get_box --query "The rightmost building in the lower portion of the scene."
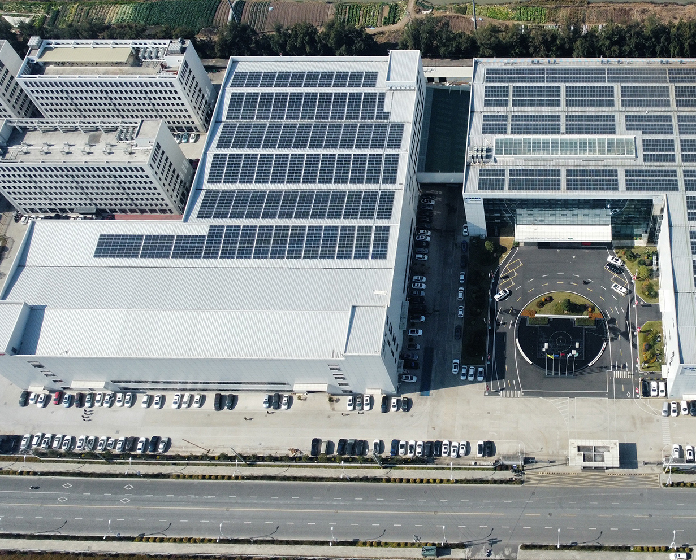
[569,439,619,470]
